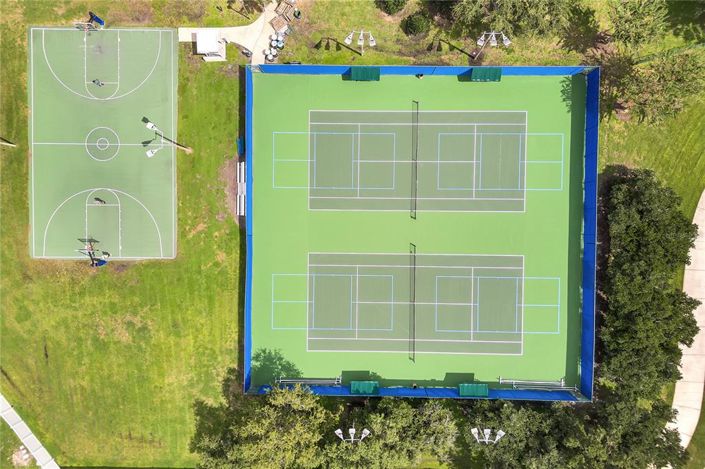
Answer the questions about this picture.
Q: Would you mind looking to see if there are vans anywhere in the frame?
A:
No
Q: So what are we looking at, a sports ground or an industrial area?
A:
sports ground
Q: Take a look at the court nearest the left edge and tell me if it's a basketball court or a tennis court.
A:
basketball court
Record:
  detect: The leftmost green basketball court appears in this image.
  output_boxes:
[28,27,176,261]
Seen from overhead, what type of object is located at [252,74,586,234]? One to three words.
tennis court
